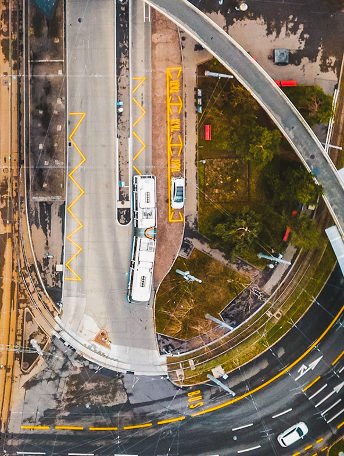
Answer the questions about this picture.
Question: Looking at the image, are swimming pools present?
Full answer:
No, there is no swimming pool in the image.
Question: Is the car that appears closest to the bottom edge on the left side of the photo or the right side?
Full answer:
The car that appears closest to the bottom edge is on the right side of the image.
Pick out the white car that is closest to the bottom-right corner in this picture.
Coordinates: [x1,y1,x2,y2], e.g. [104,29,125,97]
[274,421,309,447]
